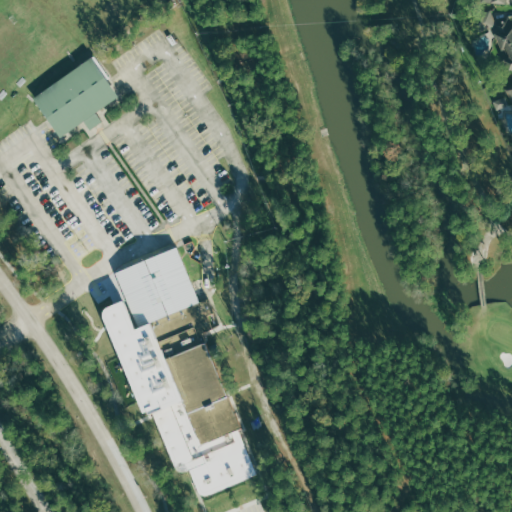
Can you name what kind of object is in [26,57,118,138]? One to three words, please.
building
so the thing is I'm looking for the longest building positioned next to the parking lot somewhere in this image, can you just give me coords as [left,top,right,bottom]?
[105,248,257,494]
